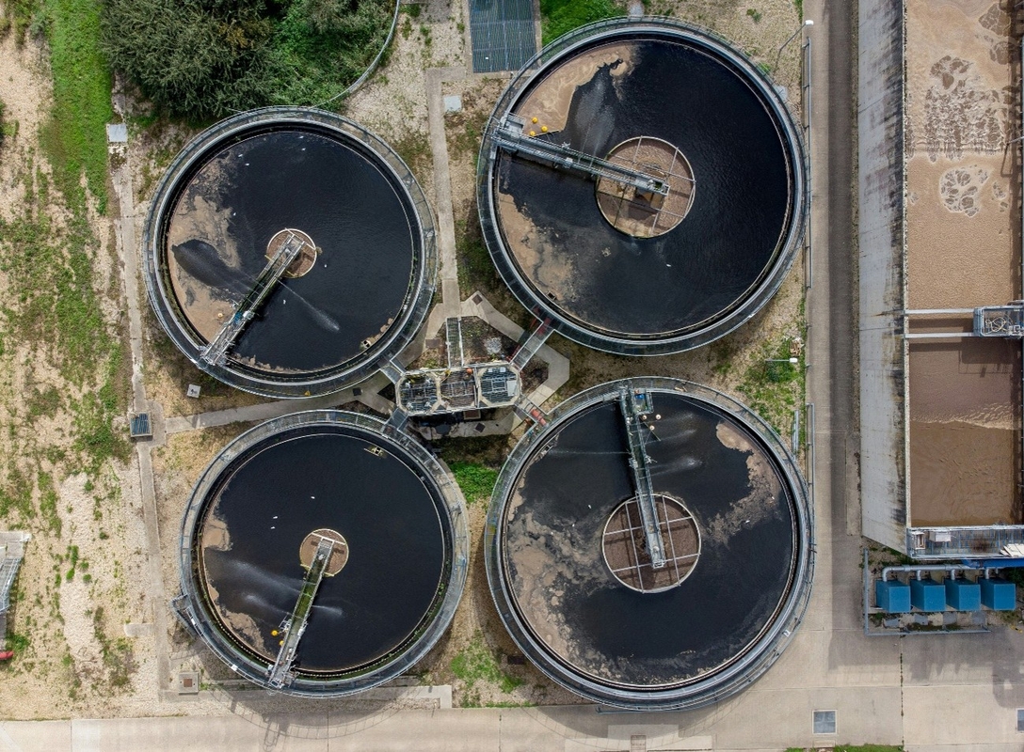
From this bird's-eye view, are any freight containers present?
No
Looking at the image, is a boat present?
No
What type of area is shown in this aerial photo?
industrial area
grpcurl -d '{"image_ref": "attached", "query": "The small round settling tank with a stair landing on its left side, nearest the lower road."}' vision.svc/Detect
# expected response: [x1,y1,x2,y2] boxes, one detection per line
[180,410,469,698]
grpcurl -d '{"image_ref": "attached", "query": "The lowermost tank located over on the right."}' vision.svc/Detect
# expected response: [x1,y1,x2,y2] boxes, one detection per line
[484,377,816,709]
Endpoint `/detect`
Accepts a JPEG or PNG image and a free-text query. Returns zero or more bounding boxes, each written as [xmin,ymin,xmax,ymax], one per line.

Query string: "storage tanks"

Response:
[144,106,436,397]
[477,19,811,354]
[180,410,469,698]
[484,377,816,709]
[857,0,1022,556]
